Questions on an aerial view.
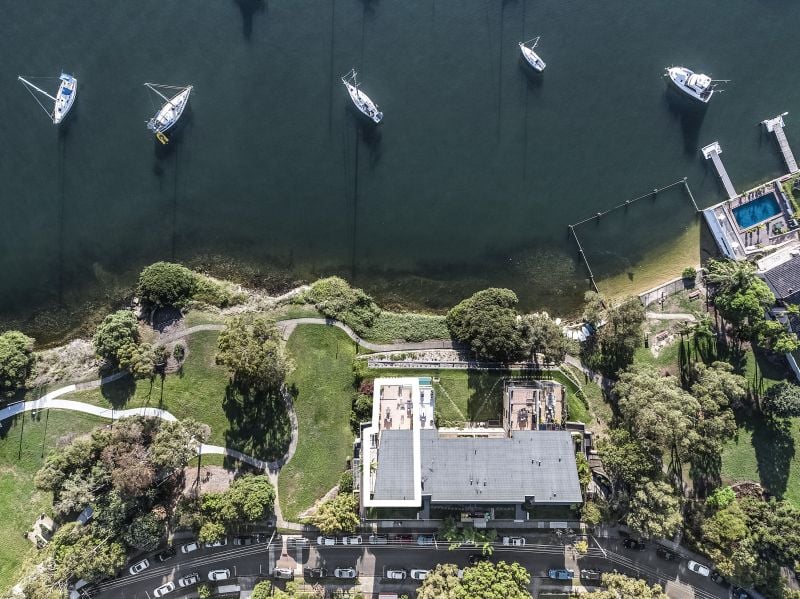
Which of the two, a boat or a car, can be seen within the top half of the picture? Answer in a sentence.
The feature located within the top half of the picture is a boat.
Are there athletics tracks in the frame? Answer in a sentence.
No, this view has no athletics track in it.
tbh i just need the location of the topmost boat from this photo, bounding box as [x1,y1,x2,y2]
[520,36,545,73]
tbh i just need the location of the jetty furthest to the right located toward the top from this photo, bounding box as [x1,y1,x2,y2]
[762,112,799,173]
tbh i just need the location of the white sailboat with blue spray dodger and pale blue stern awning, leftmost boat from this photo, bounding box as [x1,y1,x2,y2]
[18,73,75,123]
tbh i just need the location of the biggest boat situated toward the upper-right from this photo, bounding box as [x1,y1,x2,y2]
[666,68,738,106]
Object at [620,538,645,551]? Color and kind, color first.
black vehicle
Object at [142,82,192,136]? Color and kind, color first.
white boat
